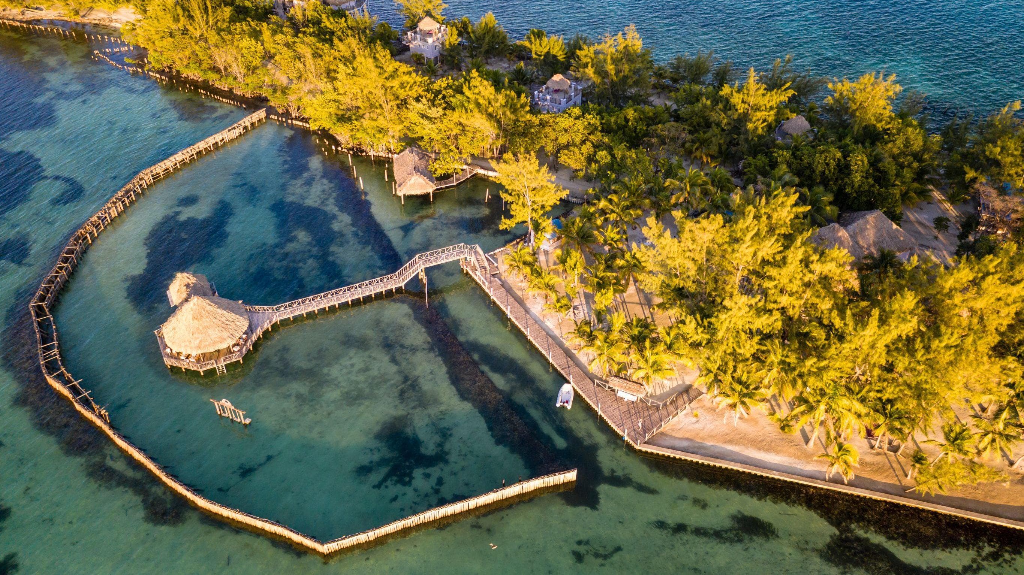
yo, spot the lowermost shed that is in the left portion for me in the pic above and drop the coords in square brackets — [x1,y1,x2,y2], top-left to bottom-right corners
[152,295,283,387]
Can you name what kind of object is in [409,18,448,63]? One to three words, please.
house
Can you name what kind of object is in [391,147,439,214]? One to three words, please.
building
